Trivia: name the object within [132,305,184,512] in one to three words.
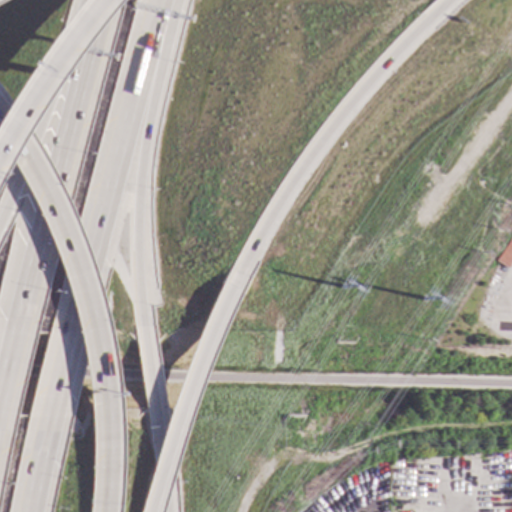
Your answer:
bridge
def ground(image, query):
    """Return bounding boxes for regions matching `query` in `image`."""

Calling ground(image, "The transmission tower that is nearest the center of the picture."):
[341,282,374,296]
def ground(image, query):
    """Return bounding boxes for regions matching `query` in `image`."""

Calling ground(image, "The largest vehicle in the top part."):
[131,39,149,98]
